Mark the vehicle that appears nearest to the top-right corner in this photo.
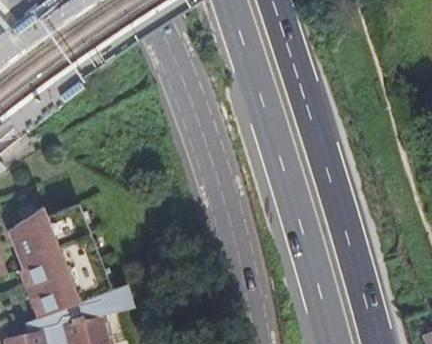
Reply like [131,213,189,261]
[281,18,296,42]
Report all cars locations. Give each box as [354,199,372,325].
[244,268,258,292]
[164,21,175,33]
[366,284,380,308]
[288,232,303,256]
[281,18,296,42]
